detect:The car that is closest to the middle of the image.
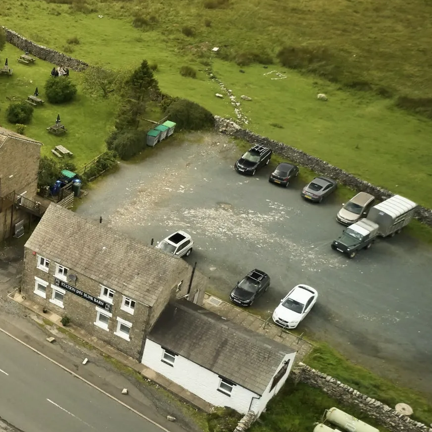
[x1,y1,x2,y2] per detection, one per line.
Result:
[157,226,200,257]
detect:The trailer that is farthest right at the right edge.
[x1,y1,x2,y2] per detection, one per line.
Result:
[367,194,417,240]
